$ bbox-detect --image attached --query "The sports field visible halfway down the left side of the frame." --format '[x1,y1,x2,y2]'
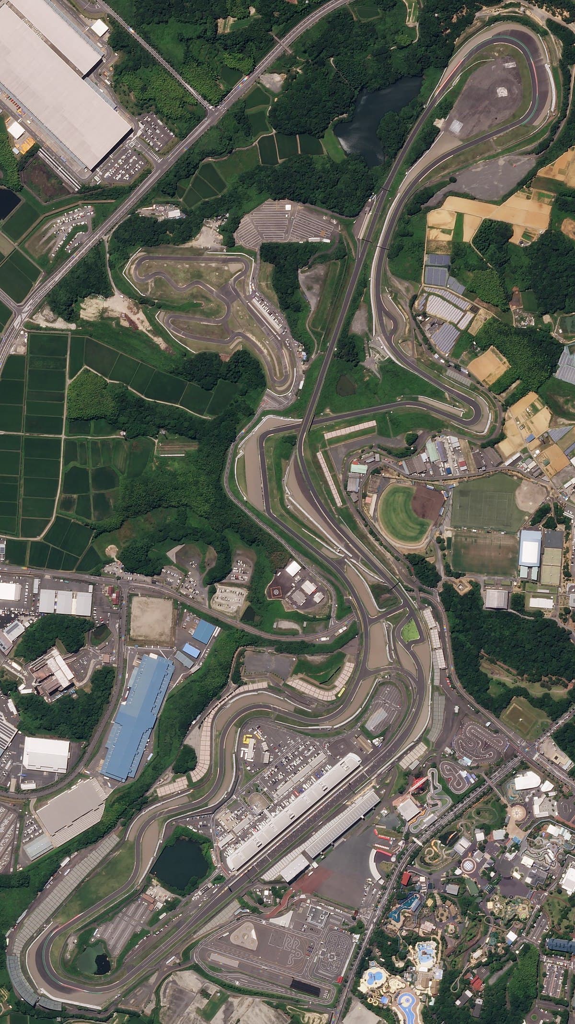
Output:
[129,596,172,642]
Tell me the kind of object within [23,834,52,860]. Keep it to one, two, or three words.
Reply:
building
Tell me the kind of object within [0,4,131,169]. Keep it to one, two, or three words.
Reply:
warehouse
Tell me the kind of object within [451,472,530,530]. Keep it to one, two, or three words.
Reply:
sports field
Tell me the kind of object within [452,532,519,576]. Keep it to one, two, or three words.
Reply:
sports field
